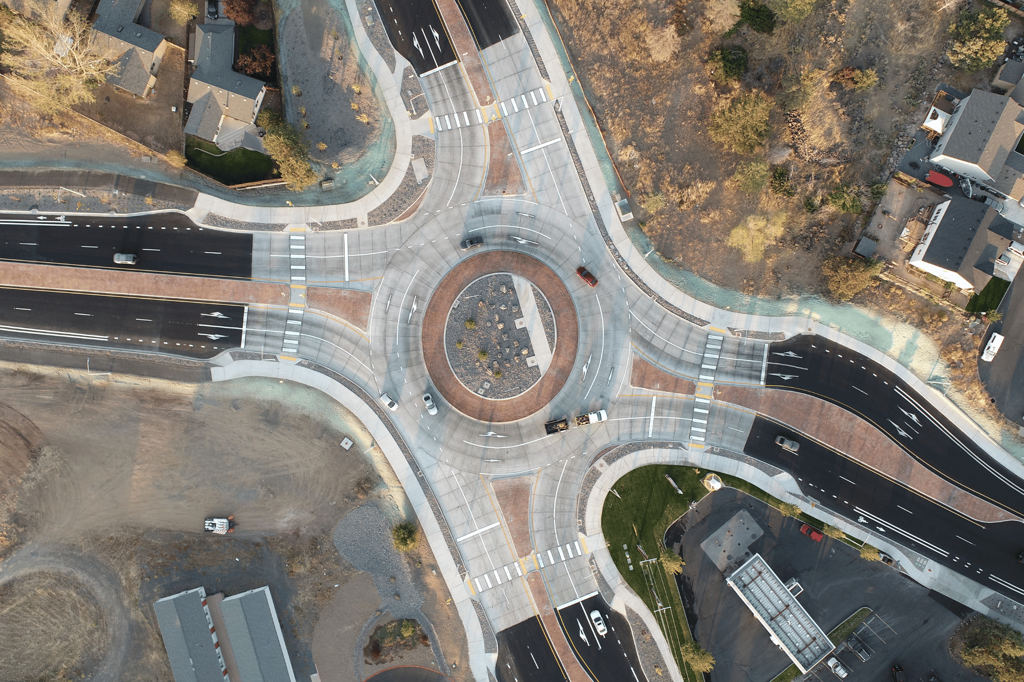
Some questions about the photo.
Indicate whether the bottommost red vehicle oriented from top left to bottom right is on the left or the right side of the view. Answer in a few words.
right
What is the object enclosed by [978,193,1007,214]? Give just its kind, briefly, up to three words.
truck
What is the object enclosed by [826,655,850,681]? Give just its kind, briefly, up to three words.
car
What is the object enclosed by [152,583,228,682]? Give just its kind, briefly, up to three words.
building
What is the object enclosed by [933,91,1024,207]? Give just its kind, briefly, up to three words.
house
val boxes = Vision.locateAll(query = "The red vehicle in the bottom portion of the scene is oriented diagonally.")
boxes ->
[799,523,825,543]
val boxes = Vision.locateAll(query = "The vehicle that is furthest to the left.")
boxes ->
[113,252,139,264]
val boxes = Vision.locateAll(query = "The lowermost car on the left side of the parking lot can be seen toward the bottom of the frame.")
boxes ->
[590,609,606,637]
